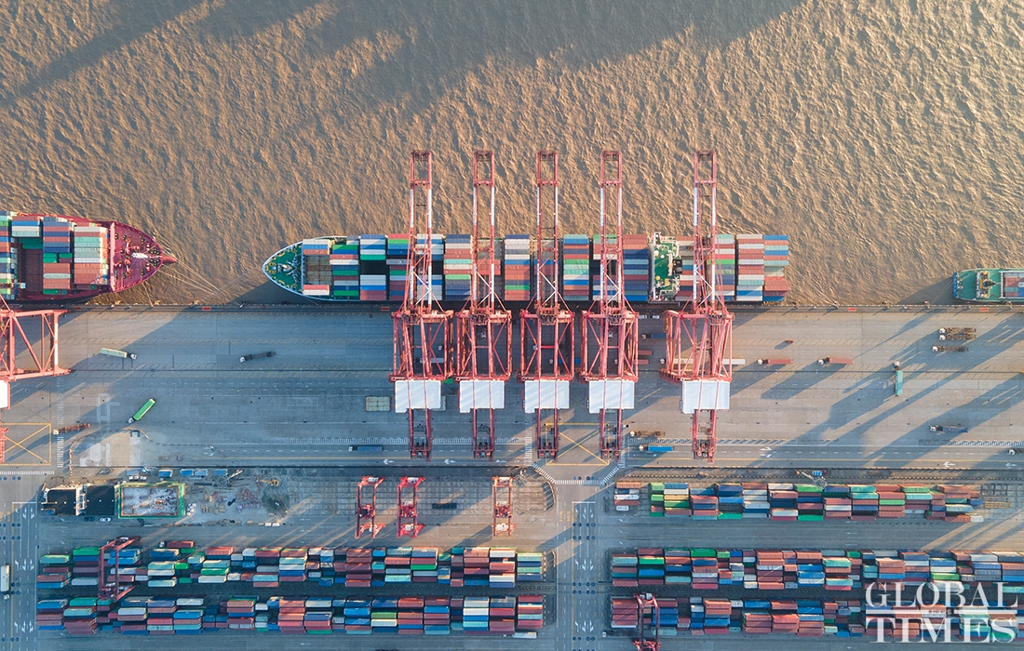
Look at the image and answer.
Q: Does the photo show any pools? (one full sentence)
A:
No, there is no pool in the image.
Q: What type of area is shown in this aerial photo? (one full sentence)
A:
What you see here is a port.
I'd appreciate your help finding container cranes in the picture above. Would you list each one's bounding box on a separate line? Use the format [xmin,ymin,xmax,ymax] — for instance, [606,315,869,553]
[491,475,516,538]
[99,536,143,602]
[572,150,640,459]
[657,150,734,459]
[390,150,458,459]
[454,150,515,459]
[515,150,576,459]
[396,475,425,538]
[355,475,386,538]
[630,592,661,651]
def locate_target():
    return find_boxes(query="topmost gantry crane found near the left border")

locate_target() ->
[0,289,74,459]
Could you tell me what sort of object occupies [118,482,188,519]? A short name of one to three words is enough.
building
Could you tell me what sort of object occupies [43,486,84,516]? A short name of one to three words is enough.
building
